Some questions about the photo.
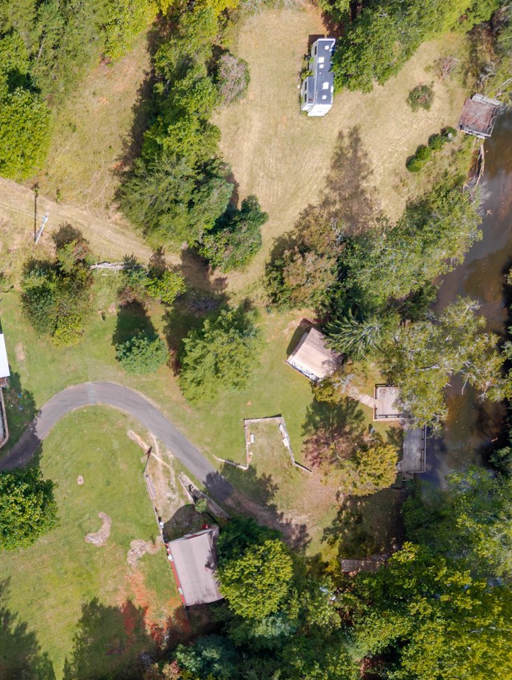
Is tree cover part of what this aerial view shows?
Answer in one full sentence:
Yes, some tree cover is visible.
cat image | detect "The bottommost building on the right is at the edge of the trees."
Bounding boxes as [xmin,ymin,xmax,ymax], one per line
[283,327,339,387]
